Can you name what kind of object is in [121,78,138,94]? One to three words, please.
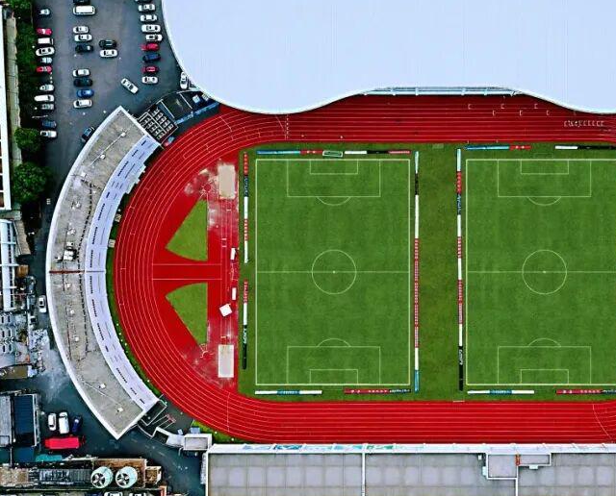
car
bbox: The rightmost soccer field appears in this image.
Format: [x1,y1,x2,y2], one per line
[464,157,616,388]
